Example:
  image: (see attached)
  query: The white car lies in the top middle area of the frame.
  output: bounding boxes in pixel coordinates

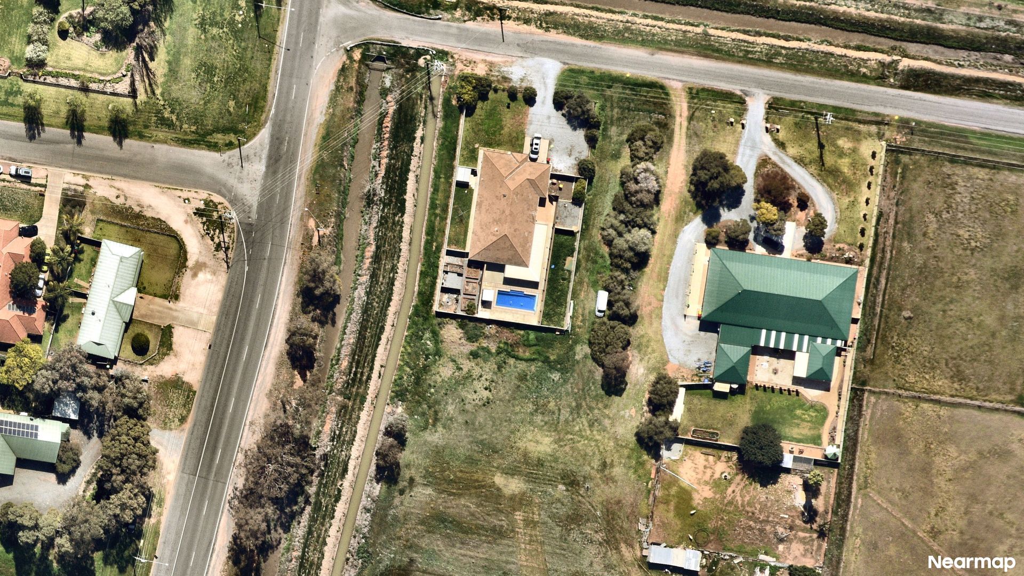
[527,133,541,159]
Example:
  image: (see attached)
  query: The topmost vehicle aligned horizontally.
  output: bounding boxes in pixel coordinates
[9,167,34,180]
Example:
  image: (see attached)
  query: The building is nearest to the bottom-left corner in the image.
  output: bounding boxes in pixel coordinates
[0,414,69,475]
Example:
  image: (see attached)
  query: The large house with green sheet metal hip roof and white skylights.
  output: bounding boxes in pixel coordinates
[700,247,858,385]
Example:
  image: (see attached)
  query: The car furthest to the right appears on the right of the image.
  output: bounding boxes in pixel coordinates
[761,235,784,253]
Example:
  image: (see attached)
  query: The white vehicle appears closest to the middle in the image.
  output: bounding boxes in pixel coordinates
[594,291,608,317]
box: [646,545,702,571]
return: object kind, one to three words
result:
shed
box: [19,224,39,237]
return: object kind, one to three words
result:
vehicle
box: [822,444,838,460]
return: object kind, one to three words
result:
gazebo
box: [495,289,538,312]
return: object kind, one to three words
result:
swimming pool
